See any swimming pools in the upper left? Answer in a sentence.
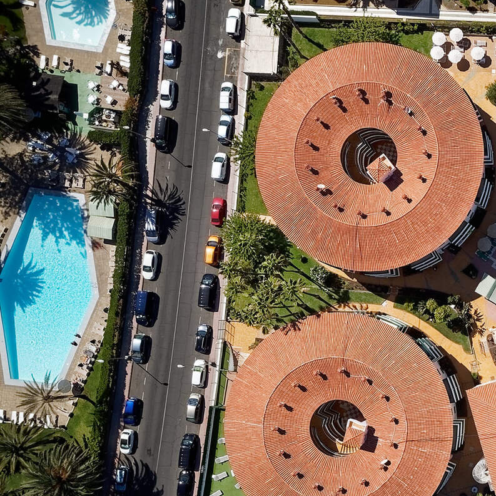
Yes, looking in the upper left, one can make out a swimming pool.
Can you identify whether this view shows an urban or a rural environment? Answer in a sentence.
It looks urban.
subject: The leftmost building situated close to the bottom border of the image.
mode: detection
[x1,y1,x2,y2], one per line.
[224,312,464,496]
